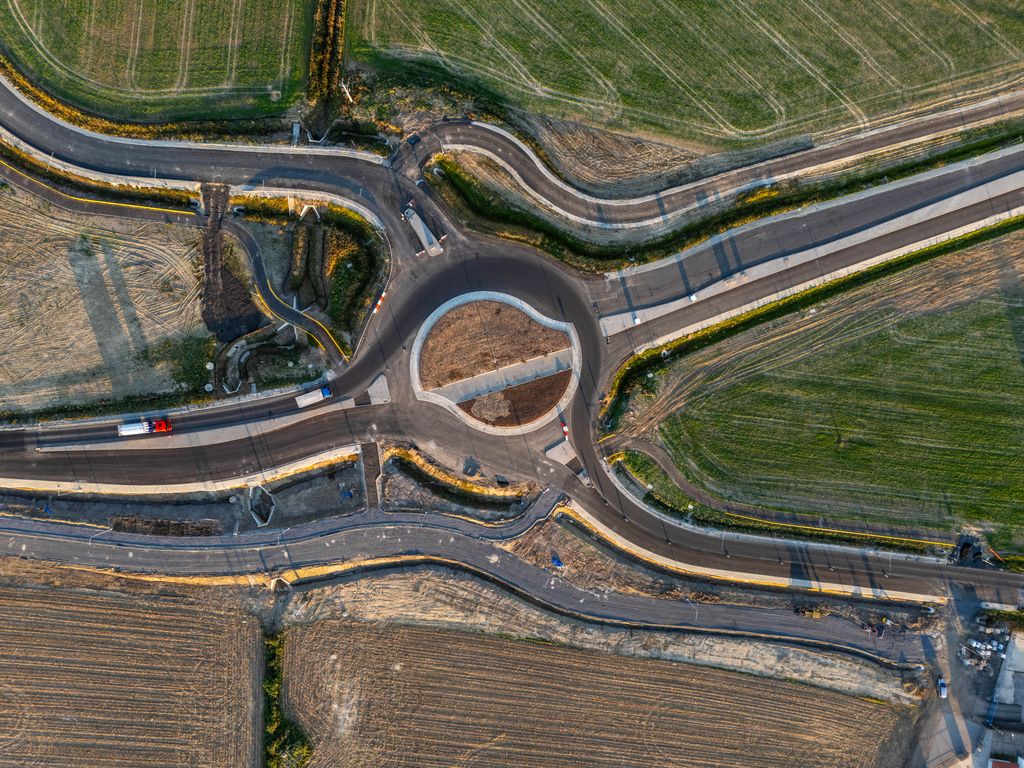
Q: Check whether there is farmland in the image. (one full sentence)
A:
Yes, the picture does contain farmland.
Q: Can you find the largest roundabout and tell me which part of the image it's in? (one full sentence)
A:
The largest roundabout sits in the center section of the image.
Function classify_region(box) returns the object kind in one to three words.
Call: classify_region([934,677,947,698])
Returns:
vehicle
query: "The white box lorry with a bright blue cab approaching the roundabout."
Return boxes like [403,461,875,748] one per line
[294,385,336,408]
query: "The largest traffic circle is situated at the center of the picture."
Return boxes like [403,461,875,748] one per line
[340,195,635,500]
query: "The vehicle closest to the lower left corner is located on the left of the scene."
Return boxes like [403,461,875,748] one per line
[116,418,176,435]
